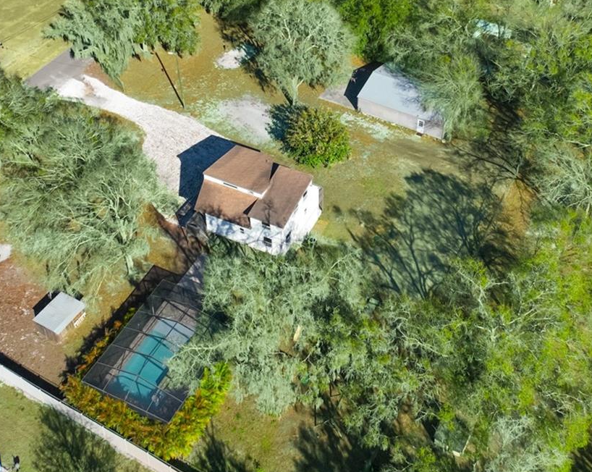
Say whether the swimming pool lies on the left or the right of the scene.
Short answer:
left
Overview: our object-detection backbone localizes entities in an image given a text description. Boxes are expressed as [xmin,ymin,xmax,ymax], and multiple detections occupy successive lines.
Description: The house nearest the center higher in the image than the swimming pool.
[192,145,323,255]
